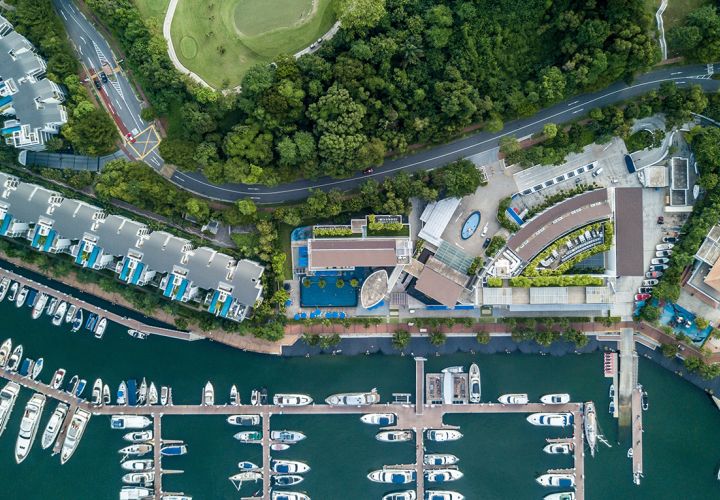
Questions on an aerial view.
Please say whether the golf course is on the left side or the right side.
left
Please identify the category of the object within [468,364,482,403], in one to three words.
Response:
boat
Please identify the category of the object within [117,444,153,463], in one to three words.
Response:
boat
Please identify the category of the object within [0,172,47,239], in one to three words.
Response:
house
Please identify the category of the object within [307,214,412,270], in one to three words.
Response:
building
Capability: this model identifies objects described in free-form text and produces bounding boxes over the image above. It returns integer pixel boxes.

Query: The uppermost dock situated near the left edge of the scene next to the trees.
[0,266,207,341]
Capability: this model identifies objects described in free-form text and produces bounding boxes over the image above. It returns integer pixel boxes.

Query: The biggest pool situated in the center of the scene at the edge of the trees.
[300,268,396,308]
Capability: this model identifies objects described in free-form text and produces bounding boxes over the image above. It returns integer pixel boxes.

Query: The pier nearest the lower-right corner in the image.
[631,389,645,473]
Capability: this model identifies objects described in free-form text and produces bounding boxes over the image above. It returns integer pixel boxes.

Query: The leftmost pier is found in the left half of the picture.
[0,367,86,455]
